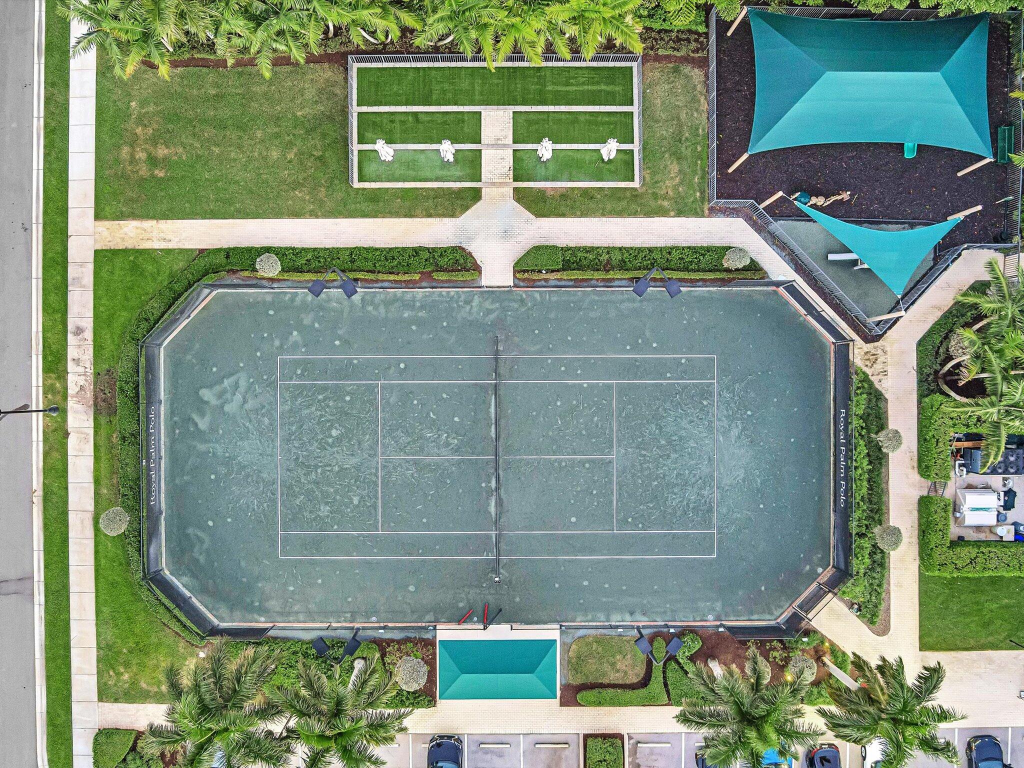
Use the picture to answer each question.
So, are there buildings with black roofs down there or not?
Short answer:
No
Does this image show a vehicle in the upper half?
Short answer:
No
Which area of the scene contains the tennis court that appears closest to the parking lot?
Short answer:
center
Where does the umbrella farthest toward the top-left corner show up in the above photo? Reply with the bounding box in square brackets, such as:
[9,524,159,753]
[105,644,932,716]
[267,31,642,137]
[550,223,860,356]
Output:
[374,137,392,164]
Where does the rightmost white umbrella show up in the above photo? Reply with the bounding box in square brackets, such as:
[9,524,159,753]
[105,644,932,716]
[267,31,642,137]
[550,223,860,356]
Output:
[600,137,618,163]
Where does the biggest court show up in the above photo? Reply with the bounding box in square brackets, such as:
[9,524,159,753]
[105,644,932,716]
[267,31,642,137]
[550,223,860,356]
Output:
[160,286,833,626]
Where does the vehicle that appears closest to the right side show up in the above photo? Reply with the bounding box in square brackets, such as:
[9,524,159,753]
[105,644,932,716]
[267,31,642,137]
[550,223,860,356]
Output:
[965,733,1015,768]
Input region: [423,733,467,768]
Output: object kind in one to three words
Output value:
car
